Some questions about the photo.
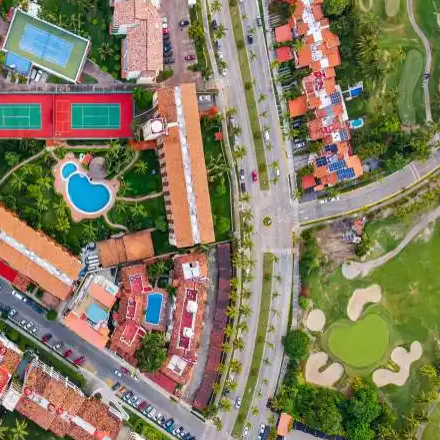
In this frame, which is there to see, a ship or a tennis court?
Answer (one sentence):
Of the two, only a tennis court appears.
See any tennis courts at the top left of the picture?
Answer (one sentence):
Yes, looking at the top left of the picture, one can make out a tennis court.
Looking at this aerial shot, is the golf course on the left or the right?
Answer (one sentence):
The golf course sits on the right side.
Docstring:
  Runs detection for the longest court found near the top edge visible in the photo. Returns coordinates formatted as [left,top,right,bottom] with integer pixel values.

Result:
[2,8,90,85]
